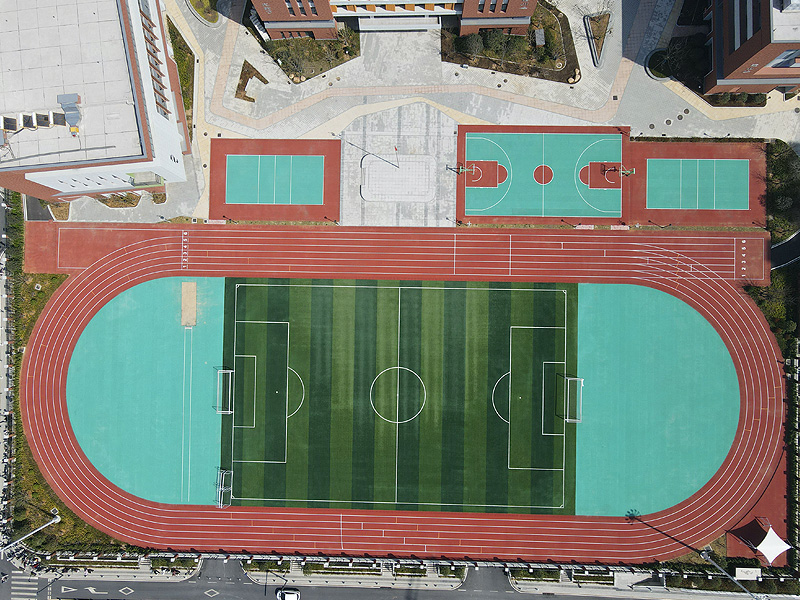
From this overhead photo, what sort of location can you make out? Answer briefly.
sports ground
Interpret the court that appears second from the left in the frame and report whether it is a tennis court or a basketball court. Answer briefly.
basketball court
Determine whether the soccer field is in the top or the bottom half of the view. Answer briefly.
bottom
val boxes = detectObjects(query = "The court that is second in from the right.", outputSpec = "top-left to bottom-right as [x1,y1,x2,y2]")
[456,126,630,226]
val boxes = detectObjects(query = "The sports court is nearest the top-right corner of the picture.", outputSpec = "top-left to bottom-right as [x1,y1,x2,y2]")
[630,141,766,228]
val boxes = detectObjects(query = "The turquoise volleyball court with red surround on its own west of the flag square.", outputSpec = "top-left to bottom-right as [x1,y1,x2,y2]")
[209,139,341,221]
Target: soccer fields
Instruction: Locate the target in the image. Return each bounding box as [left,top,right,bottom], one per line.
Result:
[220,278,577,515]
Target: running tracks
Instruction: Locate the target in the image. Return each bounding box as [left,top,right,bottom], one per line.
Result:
[20,222,788,566]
